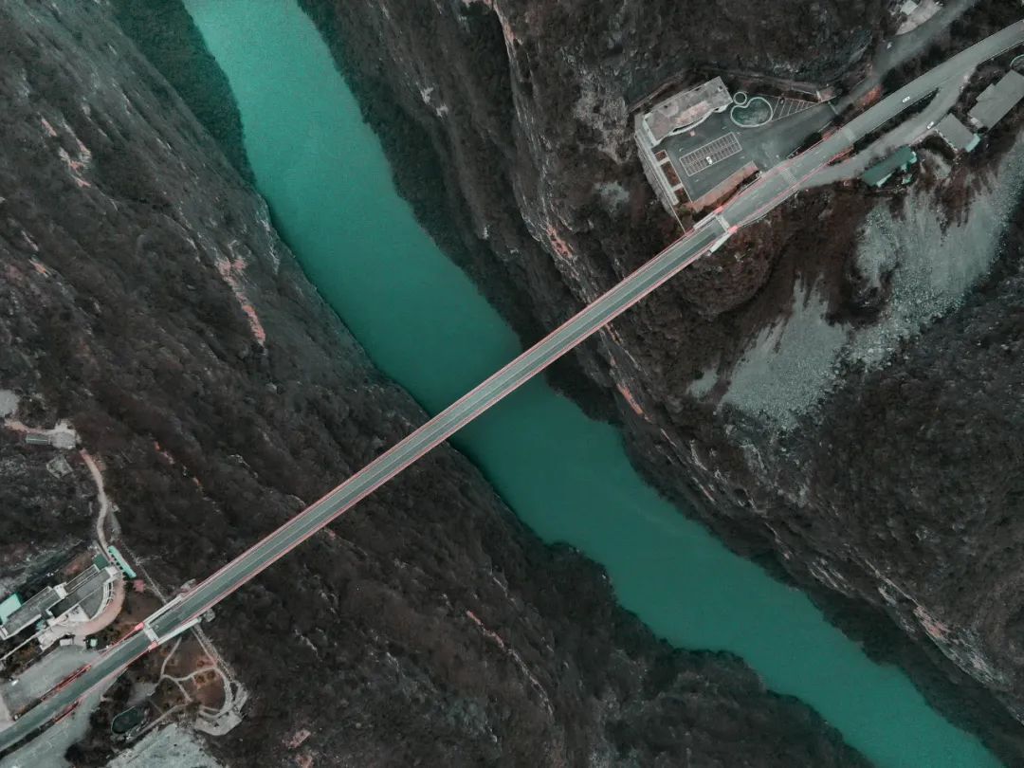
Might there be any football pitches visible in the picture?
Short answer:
No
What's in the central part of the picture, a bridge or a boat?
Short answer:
bridge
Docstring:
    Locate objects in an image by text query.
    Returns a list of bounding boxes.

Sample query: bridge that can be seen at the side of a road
[50,151,832,714]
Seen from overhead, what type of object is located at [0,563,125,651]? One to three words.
building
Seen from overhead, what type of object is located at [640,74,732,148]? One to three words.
building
